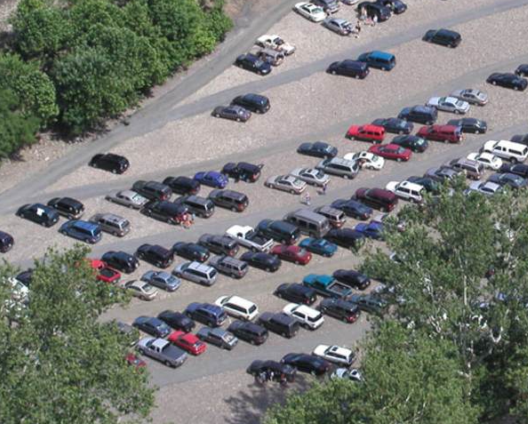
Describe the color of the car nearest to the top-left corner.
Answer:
black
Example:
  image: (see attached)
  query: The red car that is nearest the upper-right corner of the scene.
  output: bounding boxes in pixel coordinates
[418,124,461,145]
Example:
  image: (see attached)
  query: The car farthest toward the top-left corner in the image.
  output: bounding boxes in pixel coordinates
[89,152,129,175]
